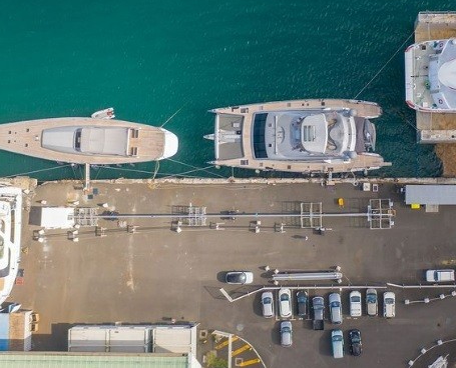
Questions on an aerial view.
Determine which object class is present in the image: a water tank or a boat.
boat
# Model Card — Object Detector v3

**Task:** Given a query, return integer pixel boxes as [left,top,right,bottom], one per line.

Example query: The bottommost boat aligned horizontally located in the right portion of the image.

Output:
[205,99,391,178]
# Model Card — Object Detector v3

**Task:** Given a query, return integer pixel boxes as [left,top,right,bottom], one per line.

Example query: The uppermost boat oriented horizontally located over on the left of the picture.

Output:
[92,105,117,117]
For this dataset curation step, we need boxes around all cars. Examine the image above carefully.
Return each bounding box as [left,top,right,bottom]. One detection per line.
[277,288,292,318]
[348,328,362,356]
[261,291,274,318]
[279,319,293,347]
[294,289,308,317]
[382,291,396,318]
[365,288,378,316]
[328,291,342,324]
[225,271,253,285]
[425,269,455,283]
[330,328,344,359]
[348,289,361,317]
